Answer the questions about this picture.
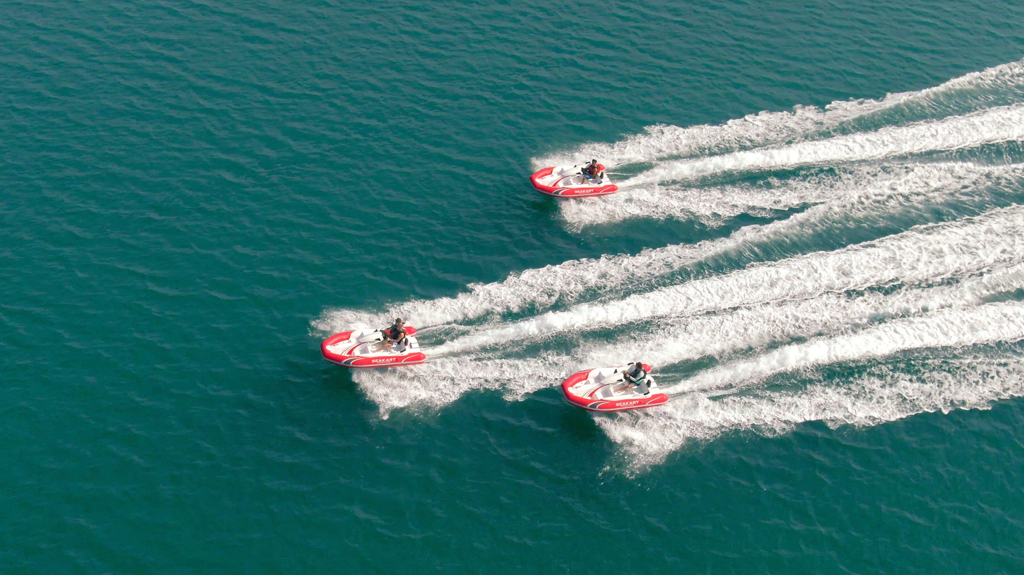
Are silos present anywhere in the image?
No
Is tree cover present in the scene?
No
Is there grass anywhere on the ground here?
No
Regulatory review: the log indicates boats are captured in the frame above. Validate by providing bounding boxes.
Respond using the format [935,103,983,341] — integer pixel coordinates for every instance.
[321,326,427,369]
[560,362,669,410]
[530,162,618,197]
